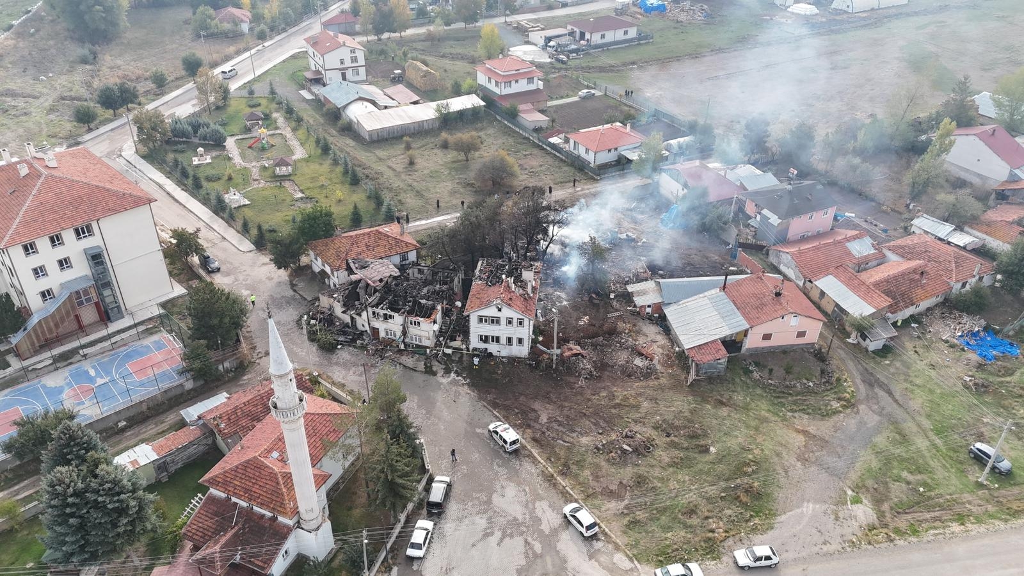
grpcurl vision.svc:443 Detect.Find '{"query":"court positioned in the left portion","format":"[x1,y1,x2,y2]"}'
[0,329,198,447]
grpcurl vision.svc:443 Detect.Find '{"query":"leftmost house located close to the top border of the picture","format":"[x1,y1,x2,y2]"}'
[216,8,260,32]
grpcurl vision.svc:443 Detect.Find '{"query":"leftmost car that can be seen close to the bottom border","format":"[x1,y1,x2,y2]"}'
[404,516,434,561]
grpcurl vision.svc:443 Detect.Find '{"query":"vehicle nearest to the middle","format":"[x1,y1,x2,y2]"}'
[484,417,525,452]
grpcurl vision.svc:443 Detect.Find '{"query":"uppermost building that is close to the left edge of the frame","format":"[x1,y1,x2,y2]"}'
[0,139,174,359]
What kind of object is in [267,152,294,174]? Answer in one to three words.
gazebo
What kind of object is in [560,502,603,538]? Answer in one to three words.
car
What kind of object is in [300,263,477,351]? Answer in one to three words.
house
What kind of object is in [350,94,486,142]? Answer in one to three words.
barn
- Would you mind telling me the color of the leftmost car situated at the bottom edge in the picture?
white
